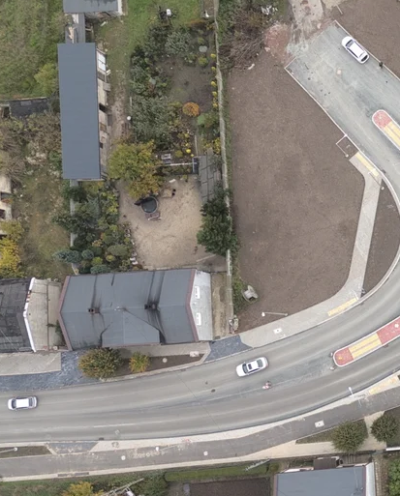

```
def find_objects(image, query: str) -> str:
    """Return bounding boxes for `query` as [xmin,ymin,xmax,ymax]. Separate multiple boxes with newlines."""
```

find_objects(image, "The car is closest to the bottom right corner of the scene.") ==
[236,356,269,377]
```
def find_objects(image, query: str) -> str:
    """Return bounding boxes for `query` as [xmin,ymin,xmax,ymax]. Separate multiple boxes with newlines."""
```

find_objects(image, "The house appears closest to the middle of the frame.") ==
[57,268,211,351]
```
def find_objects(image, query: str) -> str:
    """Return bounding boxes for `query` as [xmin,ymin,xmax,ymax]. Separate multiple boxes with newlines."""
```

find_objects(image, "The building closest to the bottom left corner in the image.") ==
[0,278,50,353]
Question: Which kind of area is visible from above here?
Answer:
residential area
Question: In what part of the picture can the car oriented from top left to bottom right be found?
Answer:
top right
